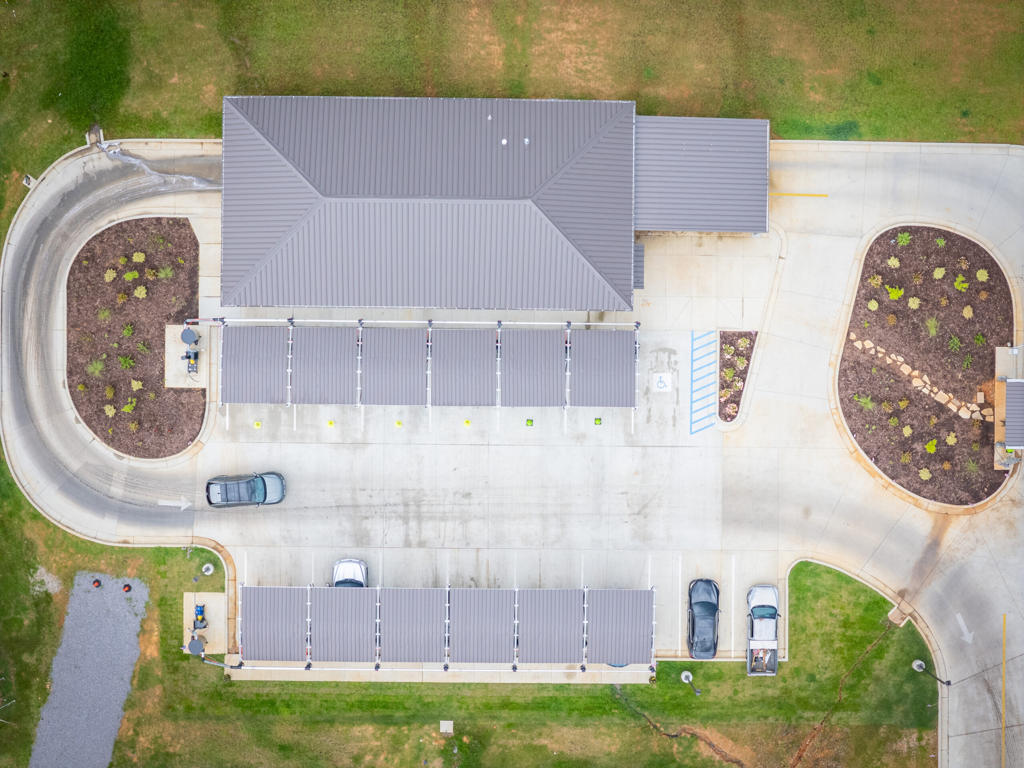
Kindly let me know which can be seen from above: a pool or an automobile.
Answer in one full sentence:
The image shows an automobile.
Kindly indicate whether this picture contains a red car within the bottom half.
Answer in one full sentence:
No, the scene shows no red car within the bottom half.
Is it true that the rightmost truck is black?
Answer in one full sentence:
No, the rightmost truck is actually white.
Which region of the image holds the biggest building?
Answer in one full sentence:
Look in the top portion of the view to spot the biggest building.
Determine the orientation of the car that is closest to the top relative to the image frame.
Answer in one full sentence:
What the image shows is the car that is closest to the top lying from left to right.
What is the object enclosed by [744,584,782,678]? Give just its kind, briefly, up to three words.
truck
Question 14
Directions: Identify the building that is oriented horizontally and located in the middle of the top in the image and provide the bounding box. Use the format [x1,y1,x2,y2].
[219,94,769,313]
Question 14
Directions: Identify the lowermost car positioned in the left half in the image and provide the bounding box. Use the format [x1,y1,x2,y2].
[330,557,369,588]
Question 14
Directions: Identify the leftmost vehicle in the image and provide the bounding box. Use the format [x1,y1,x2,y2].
[206,472,286,509]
